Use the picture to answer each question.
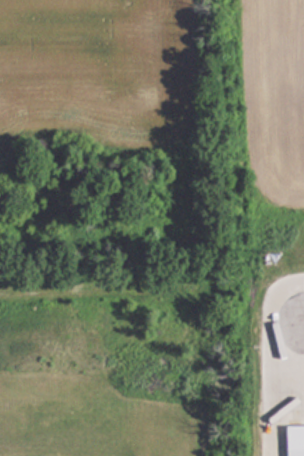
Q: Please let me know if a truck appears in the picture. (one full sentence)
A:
Yes, there's a truck down there.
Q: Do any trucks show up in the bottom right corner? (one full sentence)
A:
Yes, a truck is visible in the bottom right corner.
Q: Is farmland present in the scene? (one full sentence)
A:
Yes, farmland can be seen from above here.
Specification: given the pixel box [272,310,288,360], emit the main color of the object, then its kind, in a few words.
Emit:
white vehicle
